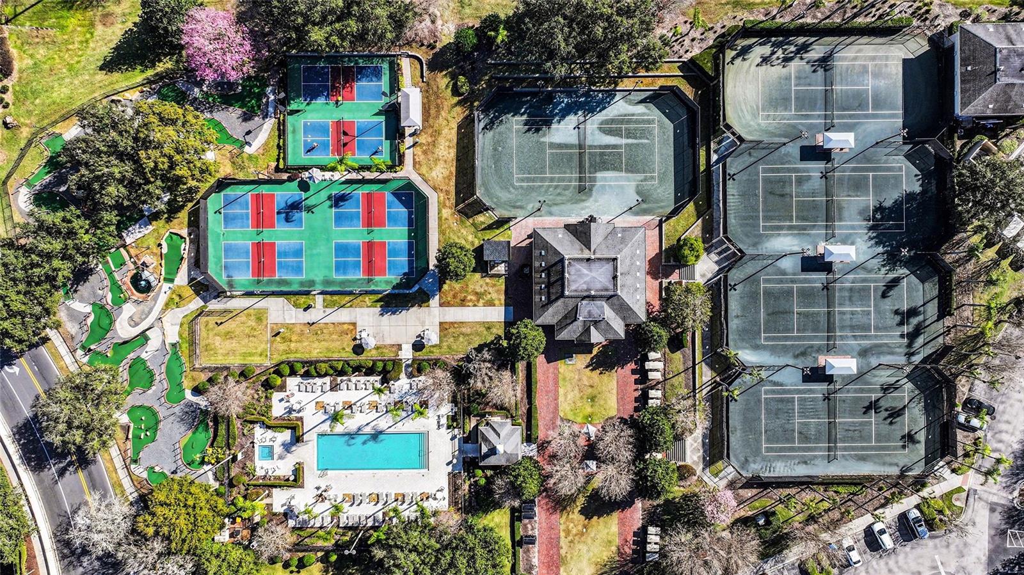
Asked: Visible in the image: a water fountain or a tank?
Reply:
water fountain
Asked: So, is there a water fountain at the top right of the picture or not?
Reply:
No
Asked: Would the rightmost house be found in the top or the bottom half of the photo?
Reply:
top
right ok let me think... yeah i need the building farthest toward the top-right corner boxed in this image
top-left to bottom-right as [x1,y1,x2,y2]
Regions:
[951,23,1024,116]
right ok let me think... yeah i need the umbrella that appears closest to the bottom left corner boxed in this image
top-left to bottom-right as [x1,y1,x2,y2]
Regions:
[283,506,297,521]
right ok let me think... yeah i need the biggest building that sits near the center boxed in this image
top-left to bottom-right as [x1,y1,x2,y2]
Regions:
[533,223,647,344]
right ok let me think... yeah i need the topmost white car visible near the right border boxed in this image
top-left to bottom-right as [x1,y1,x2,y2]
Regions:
[967,415,987,433]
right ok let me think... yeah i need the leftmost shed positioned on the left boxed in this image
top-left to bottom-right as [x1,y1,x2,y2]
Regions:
[224,516,252,543]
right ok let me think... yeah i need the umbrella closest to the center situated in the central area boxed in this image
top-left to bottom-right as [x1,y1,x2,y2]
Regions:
[424,331,437,345]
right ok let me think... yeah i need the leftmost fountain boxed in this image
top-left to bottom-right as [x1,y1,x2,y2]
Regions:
[124,264,158,298]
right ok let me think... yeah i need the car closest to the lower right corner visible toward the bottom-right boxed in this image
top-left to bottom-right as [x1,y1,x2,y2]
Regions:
[905,509,928,539]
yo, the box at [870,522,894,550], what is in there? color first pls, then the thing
white car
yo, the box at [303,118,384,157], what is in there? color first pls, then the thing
blue sports court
